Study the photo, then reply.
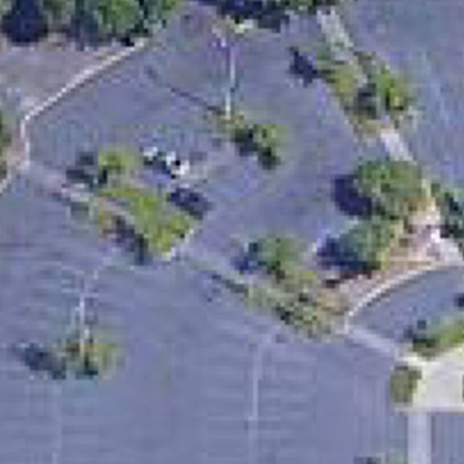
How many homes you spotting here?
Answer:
zero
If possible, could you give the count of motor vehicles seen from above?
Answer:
2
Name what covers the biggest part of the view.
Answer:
paved ground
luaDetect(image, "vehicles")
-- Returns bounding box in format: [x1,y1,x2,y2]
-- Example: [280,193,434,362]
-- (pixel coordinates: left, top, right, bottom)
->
[140,145,194,180]
[162,186,213,222]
